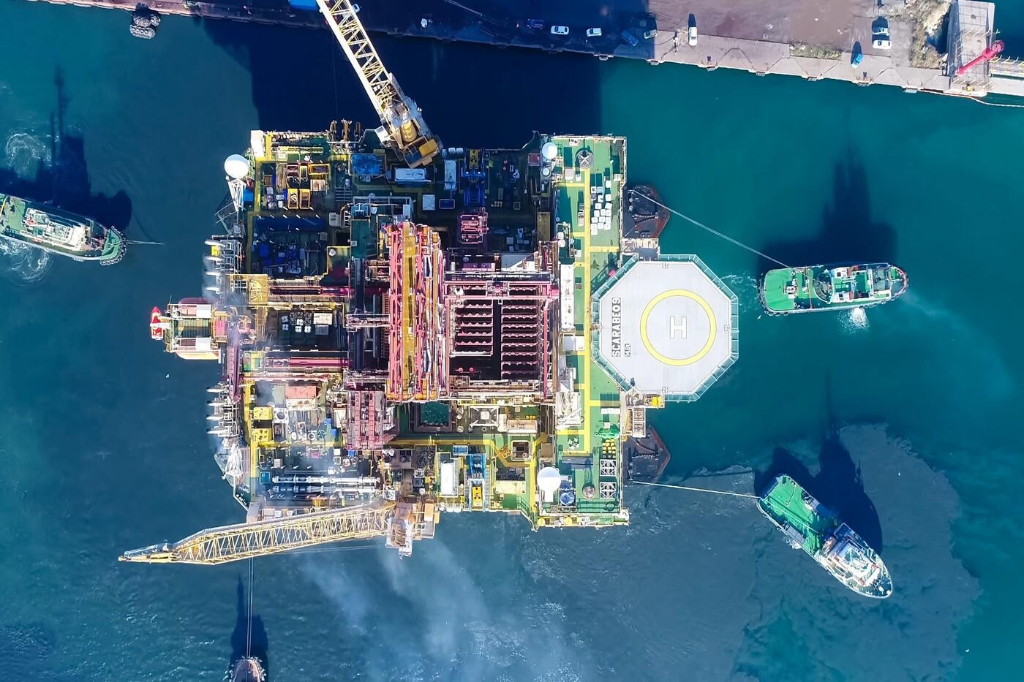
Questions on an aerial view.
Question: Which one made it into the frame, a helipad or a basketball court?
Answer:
helipad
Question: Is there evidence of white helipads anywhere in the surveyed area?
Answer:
Yes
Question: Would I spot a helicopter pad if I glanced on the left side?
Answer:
No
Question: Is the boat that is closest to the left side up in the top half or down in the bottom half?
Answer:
top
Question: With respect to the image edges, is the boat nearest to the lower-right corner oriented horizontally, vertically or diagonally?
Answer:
diagonally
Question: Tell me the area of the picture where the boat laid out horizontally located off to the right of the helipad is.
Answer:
right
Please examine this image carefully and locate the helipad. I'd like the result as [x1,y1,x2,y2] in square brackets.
[590,240,739,439]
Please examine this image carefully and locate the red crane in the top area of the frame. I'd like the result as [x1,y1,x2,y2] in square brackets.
[952,39,1007,77]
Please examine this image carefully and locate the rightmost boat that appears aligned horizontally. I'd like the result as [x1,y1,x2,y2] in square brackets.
[758,260,914,317]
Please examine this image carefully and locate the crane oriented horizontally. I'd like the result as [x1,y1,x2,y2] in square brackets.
[118,495,440,565]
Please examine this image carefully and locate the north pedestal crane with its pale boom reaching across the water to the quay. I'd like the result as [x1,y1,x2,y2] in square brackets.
[315,0,442,170]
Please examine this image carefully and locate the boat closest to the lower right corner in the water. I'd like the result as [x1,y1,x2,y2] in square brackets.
[754,468,897,602]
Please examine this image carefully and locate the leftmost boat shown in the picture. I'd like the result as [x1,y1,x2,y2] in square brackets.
[0,191,124,264]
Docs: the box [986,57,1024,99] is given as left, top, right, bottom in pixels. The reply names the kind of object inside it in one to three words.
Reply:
pier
